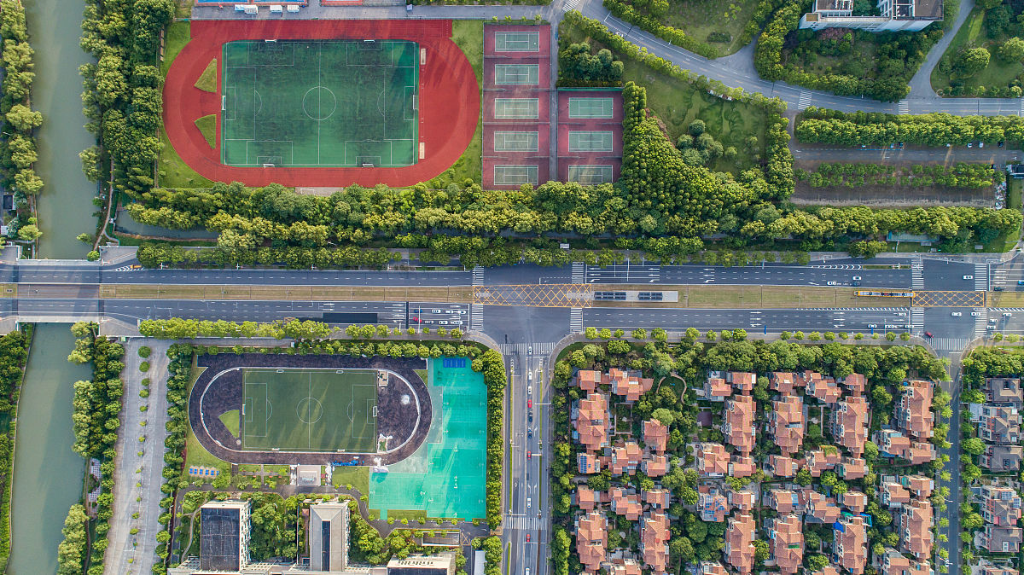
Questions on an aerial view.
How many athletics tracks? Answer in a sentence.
In total, 2 athletics tracks can be seen.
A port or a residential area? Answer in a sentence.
The picture captures a residential area.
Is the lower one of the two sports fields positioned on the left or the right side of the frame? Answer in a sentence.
The lower one of the two sports fields appears in the left half of the scene.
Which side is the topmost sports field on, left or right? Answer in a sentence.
The topmost sports field appears in the left half of the scene.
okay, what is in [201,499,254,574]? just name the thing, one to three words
building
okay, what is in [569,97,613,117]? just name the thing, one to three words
tennis court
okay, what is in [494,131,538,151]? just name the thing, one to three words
tennis court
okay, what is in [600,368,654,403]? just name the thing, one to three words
house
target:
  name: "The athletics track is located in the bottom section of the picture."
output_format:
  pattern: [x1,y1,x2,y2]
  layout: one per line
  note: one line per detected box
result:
[189,354,432,466]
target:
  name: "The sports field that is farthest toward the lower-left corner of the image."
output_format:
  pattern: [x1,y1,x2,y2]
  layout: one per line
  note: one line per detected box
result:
[242,369,376,452]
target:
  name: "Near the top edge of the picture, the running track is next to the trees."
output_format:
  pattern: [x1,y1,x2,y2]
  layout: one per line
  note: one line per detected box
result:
[162,20,479,187]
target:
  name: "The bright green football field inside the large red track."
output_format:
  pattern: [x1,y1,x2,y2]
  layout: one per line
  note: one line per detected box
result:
[222,40,419,167]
